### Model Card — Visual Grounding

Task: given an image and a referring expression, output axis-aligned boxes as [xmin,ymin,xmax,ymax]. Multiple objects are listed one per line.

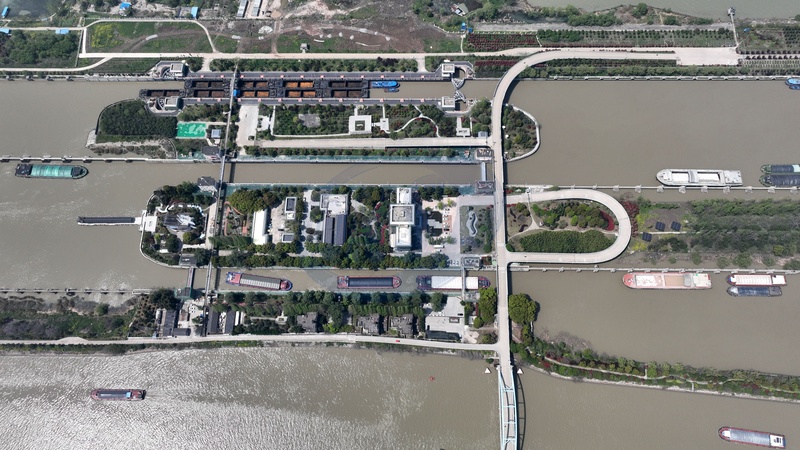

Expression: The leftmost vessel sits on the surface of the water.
[13,164,89,179]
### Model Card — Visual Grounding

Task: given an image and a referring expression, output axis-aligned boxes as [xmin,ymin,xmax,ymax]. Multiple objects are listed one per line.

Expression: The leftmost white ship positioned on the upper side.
[656,170,744,186]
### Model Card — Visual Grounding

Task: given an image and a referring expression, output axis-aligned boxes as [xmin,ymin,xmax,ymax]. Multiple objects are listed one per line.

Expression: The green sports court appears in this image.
[175,121,208,138]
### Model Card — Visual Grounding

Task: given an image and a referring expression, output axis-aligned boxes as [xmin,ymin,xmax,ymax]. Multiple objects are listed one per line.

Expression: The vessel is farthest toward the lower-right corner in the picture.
[718,426,786,448]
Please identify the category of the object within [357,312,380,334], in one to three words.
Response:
house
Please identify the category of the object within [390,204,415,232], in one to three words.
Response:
building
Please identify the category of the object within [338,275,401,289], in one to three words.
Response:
ship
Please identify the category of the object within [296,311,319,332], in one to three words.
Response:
house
